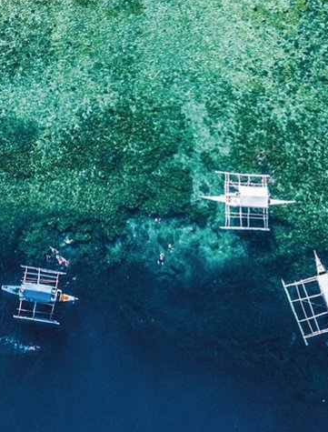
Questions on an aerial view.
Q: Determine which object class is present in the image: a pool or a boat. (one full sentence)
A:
Of the two, only a boat appears.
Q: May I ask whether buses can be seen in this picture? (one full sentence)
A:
No, no bus can be seen from above.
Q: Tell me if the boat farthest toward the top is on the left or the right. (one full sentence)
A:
The boat farthest toward the top appears in the right half of the scene.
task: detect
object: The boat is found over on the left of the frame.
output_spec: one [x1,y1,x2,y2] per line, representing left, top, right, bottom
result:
[2,265,81,324]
